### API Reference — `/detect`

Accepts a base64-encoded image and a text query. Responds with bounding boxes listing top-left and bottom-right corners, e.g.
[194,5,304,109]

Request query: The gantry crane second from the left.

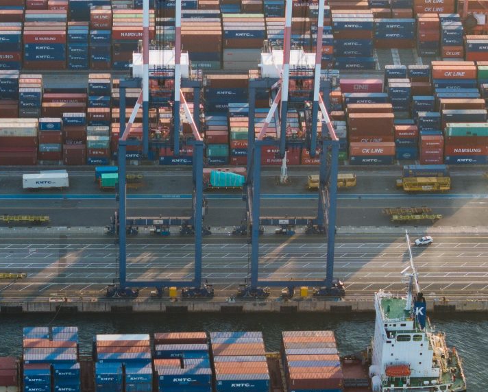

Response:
[230,0,349,295]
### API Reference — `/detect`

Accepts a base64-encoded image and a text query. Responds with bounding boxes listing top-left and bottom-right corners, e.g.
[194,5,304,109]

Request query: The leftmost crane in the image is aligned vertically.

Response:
[103,0,217,295]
